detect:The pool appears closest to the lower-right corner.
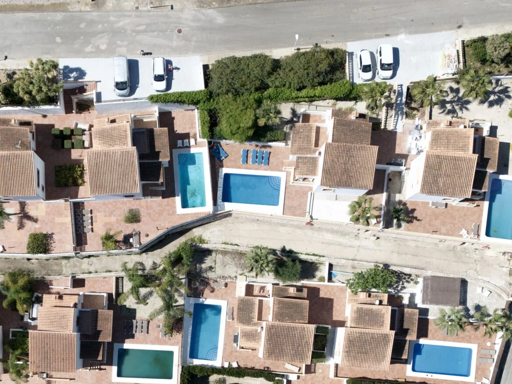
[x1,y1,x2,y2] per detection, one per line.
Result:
[406,340,478,382]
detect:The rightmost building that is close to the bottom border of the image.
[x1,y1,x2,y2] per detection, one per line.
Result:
[331,290,418,371]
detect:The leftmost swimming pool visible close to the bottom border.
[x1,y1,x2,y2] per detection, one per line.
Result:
[111,343,179,384]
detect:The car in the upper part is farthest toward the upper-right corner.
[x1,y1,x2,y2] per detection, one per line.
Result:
[376,42,396,81]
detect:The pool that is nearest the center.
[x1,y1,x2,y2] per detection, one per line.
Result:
[216,168,286,214]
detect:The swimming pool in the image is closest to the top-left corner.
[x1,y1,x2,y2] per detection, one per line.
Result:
[172,148,211,214]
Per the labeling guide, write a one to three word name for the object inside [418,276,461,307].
shed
